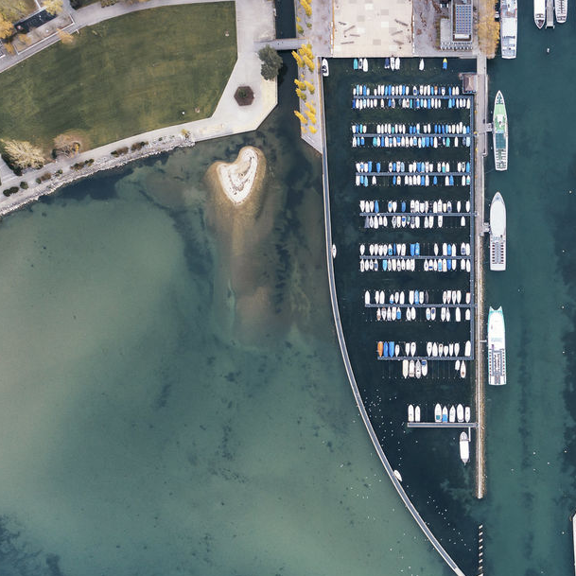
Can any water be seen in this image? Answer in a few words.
Yes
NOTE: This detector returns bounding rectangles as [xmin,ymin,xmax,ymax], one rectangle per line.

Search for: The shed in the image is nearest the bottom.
[459,72,475,94]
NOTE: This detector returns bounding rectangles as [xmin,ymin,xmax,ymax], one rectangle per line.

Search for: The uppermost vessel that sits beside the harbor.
[501,0,517,58]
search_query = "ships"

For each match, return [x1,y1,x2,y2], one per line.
[501,0,517,58]
[488,306,506,386]
[555,0,567,22]
[494,91,508,170]
[534,0,545,29]
[491,192,506,270]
